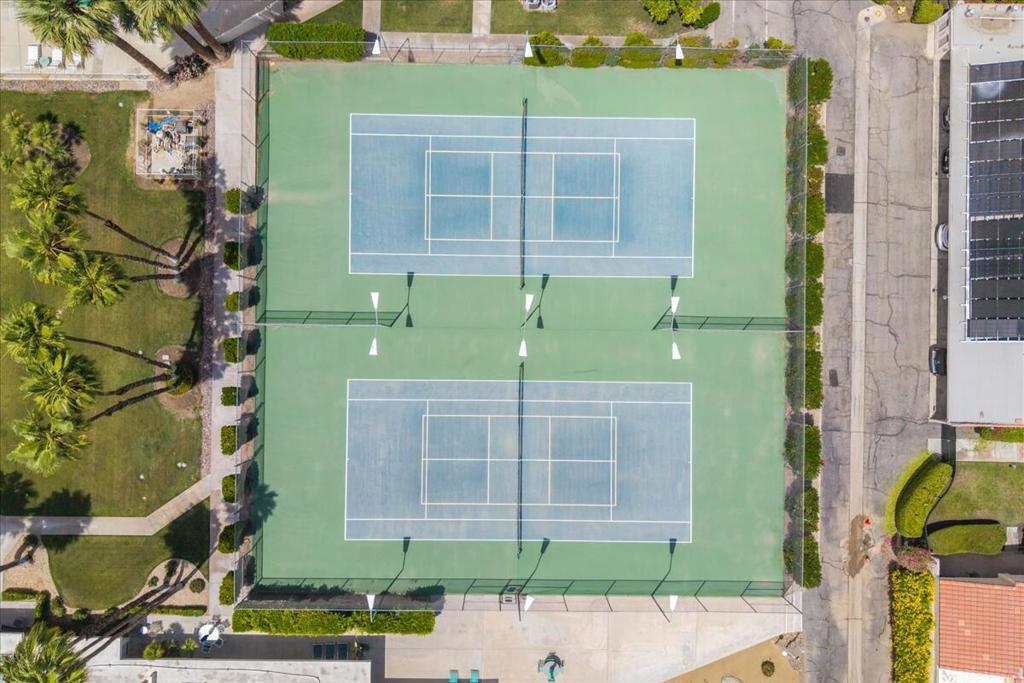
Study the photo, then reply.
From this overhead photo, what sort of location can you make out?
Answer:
sports ground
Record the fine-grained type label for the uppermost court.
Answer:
tennis court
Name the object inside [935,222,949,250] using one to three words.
car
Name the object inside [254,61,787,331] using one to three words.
tennis court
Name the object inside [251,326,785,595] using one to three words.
tennis court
